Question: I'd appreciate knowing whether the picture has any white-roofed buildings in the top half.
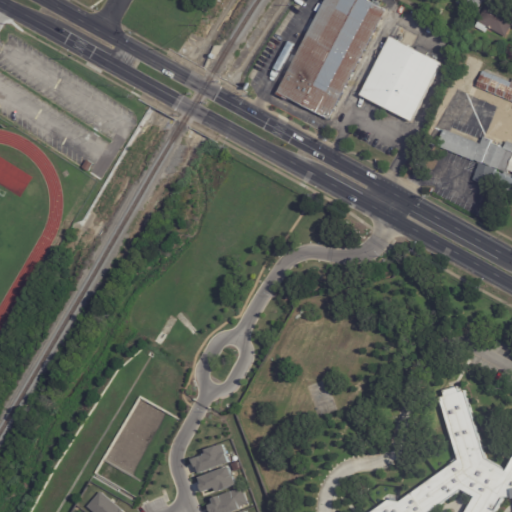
Yes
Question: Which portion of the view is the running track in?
left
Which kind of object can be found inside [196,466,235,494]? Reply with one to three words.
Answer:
house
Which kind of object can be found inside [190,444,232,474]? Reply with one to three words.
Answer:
house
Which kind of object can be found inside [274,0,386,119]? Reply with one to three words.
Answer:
warehouse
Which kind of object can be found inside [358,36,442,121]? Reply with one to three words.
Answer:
building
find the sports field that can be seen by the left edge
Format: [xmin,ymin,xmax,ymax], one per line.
[0,144,48,287]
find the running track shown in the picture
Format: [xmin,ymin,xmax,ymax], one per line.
[0,130,63,314]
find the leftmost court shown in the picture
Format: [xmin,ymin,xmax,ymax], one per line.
[308,382,338,414]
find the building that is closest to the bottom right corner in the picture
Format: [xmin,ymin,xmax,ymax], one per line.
[370,387,512,512]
